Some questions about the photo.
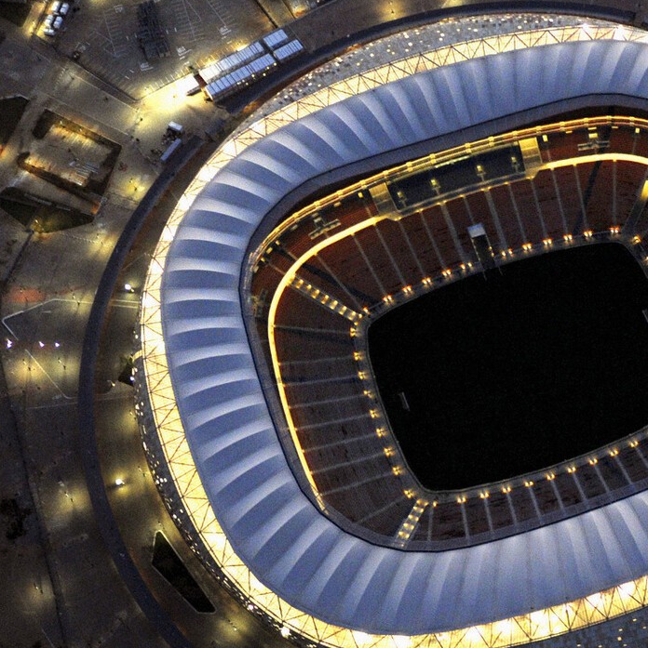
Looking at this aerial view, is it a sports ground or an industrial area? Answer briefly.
sports ground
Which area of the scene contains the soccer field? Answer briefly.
right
